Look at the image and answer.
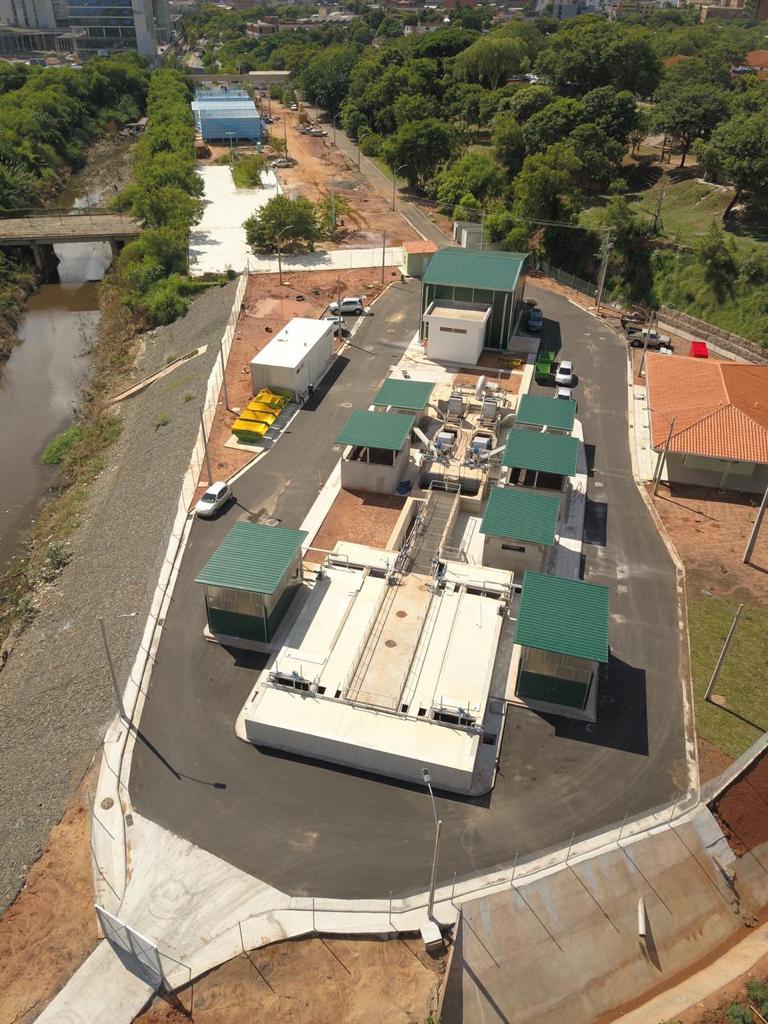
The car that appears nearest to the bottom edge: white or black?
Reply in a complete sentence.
The car that appears nearest to the bottom edge looks white in the image.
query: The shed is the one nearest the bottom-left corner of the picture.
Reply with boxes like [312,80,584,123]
[194,520,307,643]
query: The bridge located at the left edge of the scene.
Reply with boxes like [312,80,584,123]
[0,198,139,271]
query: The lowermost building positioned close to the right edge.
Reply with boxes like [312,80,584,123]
[647,354,768,490]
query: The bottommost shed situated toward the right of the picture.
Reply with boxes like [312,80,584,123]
[514,569,612,710]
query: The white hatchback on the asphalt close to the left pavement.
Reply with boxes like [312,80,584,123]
[193,481,232,515]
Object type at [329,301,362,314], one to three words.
vehicle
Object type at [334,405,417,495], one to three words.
shed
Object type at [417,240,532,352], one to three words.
building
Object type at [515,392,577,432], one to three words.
shed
